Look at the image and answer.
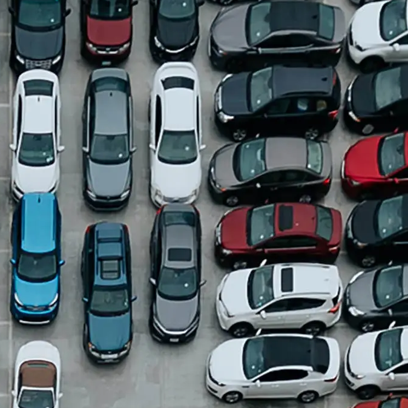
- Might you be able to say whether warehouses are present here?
No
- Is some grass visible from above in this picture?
No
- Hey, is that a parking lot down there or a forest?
parking lot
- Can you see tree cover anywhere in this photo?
No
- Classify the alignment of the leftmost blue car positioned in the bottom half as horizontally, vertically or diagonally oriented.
vertically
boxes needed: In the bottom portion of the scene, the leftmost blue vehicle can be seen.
[9,197,67,324]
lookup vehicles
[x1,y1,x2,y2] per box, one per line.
[11,71,65,201]
[211,135,335,206]
[347,261,408,333]
[348,325,408,401]
[11,341,64,408]
[150,66,207,205]
[348,61,408,135]
[7,0,72,71]
[9,197,67,324]
[215,200,344,272]
[80,224,138,362]
[82,73,138,209]
[148,0,207,58]
[215,64,343,142]
[349,192,408,267]
[207,333,342,404]
[211,0,347,73]
[344,124,408,201]
[79,0,140,61]
[150,205,207,343]
[351,0,408,69]
[219,263,345,338]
